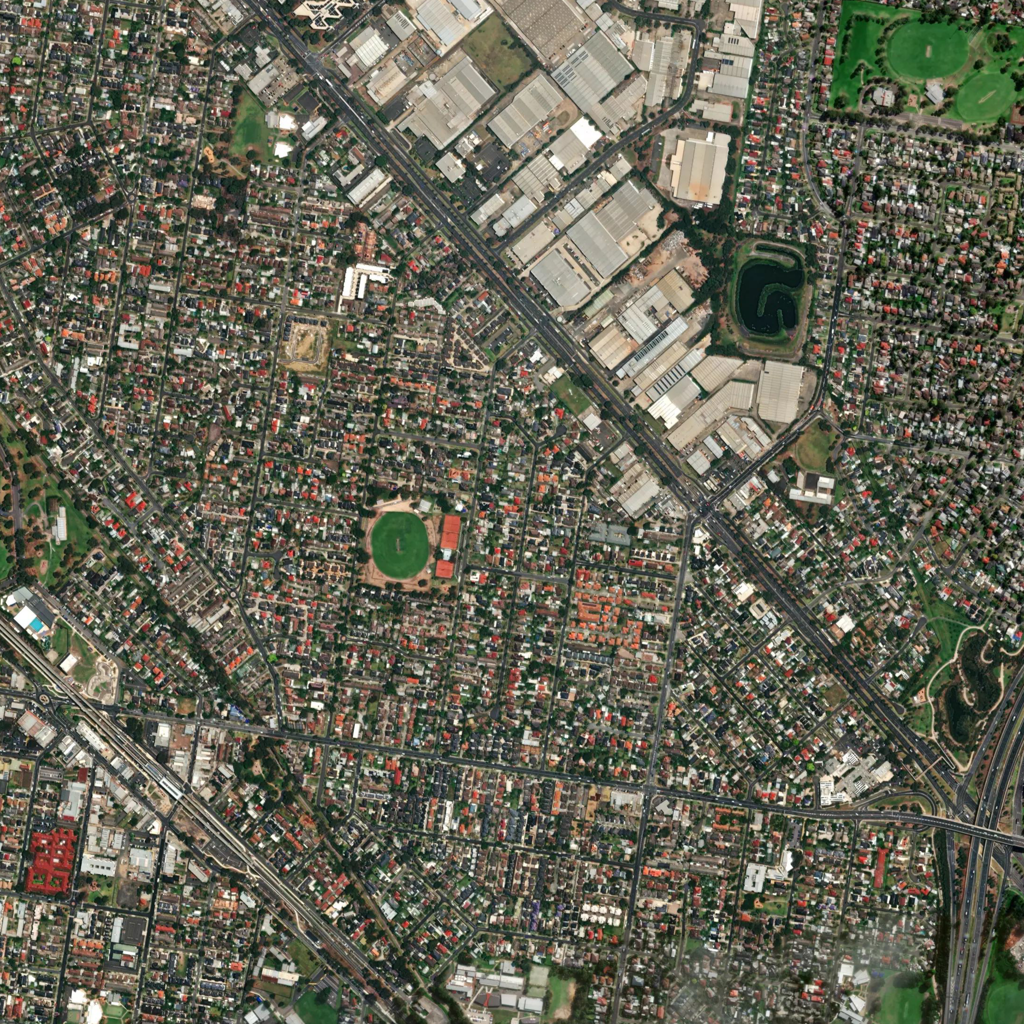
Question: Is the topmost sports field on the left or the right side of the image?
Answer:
right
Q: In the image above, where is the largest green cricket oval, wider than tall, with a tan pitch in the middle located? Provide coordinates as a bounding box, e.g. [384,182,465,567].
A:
[886,18,970,79]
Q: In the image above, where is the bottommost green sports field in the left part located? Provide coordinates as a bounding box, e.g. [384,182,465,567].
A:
[371,510,429,580]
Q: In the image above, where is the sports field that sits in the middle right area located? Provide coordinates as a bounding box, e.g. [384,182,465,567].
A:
[797,418,835,475]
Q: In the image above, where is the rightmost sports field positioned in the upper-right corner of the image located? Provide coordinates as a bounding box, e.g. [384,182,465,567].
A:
[956,72,1017,123]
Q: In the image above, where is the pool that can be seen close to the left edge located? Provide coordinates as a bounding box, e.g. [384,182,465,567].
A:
[30,616,50,635]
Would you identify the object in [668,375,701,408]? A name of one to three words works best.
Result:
building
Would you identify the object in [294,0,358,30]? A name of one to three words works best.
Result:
building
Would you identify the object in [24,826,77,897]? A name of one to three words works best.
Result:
house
